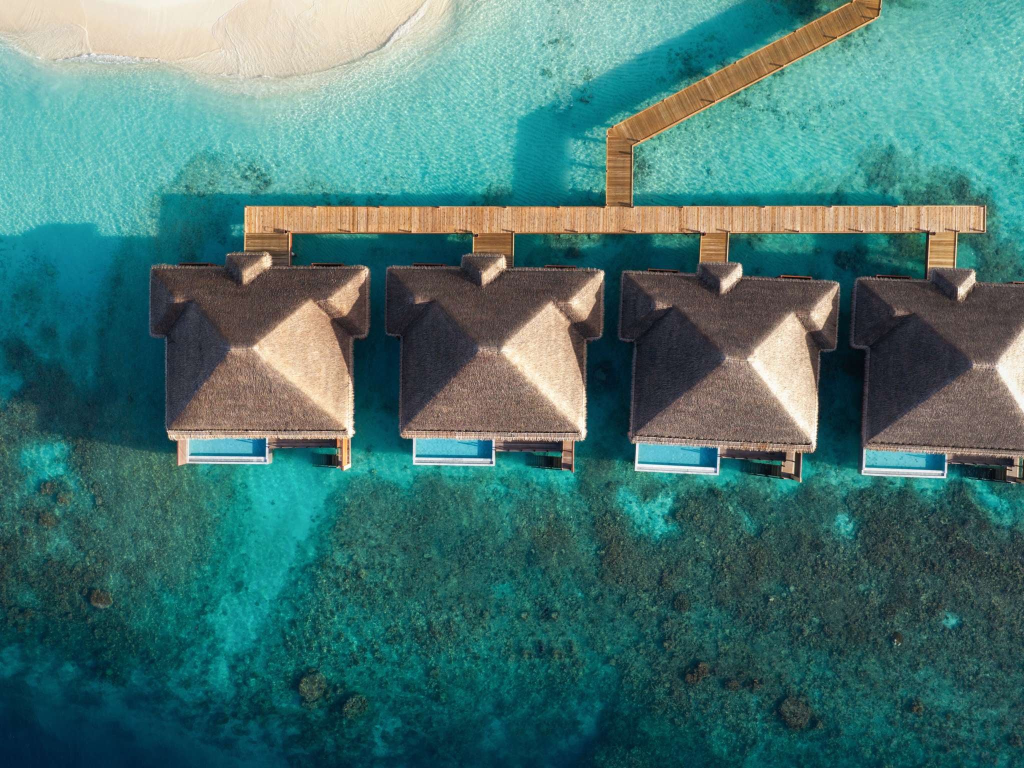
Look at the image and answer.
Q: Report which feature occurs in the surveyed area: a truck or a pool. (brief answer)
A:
pool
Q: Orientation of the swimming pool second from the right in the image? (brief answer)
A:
from side to side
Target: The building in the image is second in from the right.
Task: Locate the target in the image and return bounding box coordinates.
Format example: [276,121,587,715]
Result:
[617,261,843,485]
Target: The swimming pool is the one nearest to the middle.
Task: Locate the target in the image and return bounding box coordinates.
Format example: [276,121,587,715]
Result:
[412,437,498,466]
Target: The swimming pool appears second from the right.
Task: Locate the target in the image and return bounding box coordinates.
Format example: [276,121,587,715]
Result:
[635,443,725,474]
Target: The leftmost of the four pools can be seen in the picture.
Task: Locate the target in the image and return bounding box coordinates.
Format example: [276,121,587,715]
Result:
[188,438,273,466]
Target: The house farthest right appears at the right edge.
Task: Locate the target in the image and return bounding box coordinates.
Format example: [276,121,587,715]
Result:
[841,269,1024,491]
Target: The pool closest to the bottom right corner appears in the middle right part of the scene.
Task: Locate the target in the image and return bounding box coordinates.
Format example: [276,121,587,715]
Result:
[858,434,952,482]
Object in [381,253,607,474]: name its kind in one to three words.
house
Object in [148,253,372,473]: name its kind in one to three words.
house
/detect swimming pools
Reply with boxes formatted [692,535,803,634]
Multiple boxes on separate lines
[635,443,725,474]
[858,434,952,482]
[188,438,273,466]
[412,437,498,466]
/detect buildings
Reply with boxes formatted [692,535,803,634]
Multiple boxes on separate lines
[148,253,372,473]
[381,253,607,474]
[617,261,843,485]
[841,269,1024,491]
